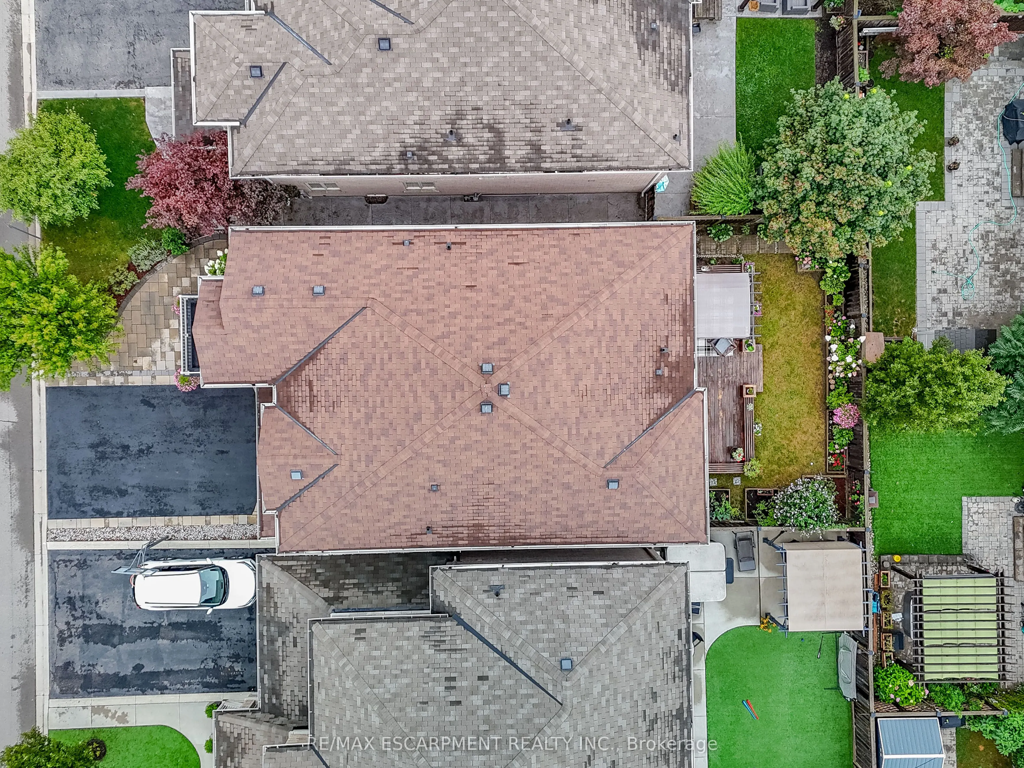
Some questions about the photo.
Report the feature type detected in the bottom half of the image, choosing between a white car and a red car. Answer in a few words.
white car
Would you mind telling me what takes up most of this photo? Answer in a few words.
buildings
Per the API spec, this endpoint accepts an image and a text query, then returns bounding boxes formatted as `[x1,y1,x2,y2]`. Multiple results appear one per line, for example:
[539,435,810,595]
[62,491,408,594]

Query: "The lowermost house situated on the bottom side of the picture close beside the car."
[213,548,692,768]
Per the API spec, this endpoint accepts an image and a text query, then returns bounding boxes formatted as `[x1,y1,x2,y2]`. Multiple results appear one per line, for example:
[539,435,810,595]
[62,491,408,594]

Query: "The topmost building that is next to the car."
[178,220,709,553]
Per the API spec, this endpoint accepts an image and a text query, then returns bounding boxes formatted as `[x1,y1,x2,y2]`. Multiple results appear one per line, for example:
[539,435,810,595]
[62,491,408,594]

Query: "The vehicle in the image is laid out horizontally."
[128,554,258,618]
